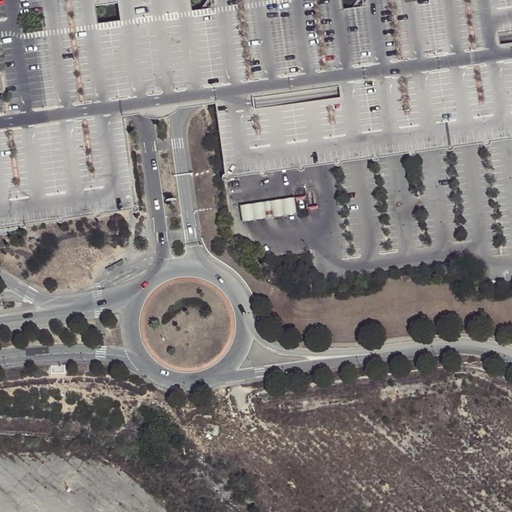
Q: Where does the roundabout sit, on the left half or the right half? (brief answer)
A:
left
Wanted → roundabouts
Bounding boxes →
[95,237,258,392]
